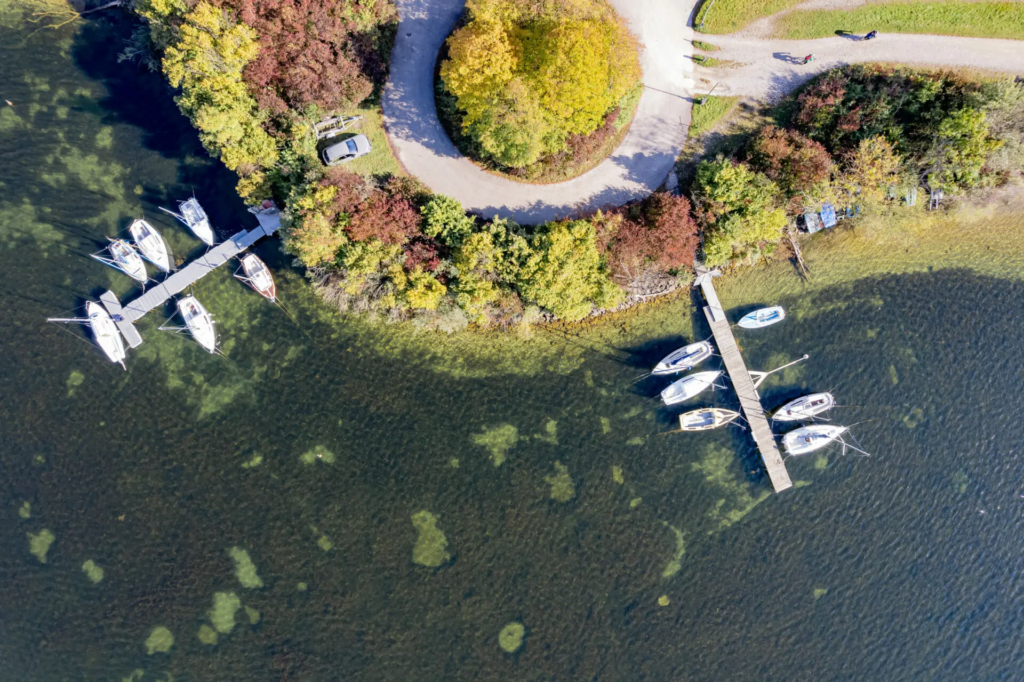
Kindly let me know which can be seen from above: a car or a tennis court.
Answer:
car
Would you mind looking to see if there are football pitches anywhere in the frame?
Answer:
No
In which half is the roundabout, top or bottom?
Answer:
top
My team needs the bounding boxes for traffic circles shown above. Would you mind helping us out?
[381,0,698,227]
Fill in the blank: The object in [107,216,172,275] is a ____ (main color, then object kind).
white boat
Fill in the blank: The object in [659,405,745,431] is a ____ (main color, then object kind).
white boat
